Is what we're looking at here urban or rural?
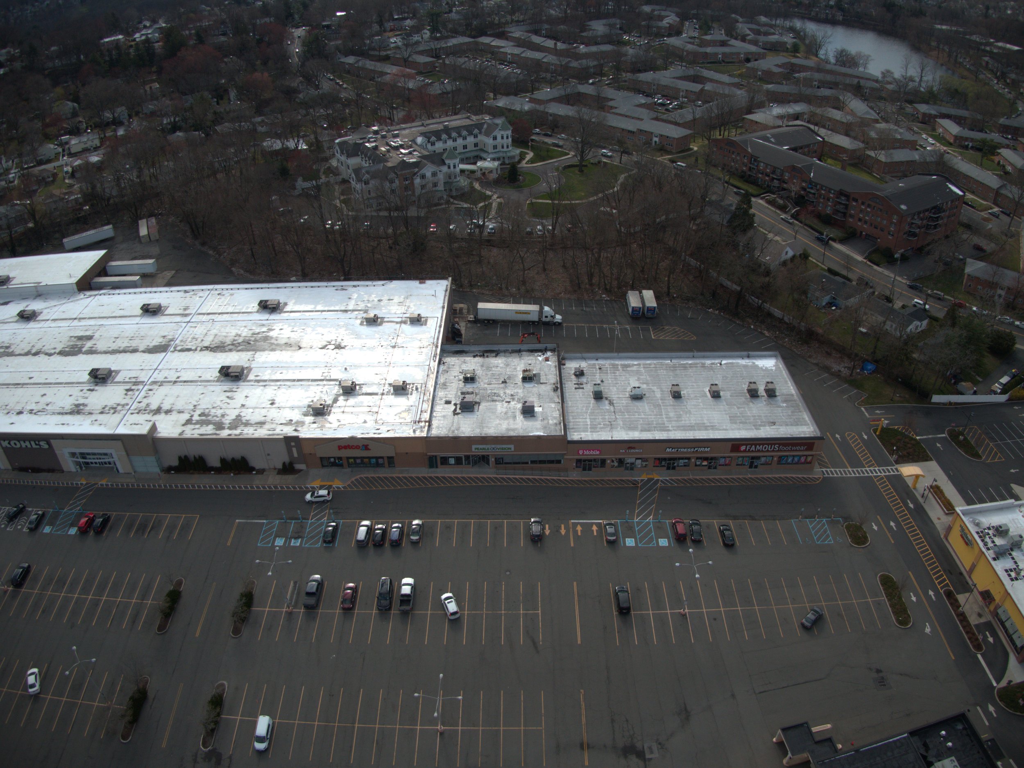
urban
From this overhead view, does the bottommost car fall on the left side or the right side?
left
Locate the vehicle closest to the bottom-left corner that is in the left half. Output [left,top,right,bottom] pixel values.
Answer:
[22,664,45,700]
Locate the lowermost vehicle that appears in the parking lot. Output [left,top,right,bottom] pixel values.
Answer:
[250,711,275,756]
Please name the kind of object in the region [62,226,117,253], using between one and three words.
trailer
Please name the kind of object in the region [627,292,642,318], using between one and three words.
vehicle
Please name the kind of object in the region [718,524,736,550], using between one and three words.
car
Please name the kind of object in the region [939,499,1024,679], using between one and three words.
building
